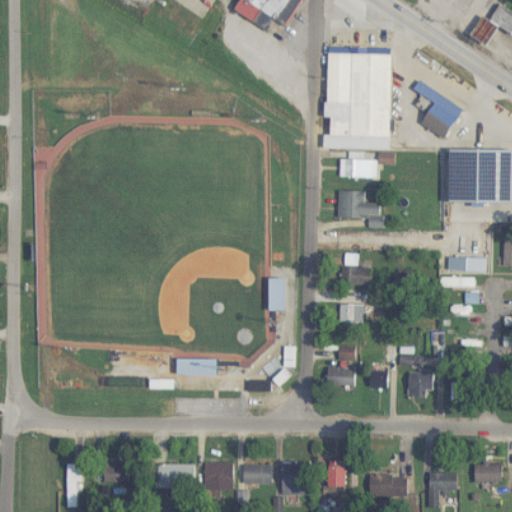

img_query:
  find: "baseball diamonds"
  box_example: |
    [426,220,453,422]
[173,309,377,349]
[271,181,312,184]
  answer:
[34,116,272,367]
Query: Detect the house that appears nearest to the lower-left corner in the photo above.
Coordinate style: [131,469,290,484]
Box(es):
[66,464,86,508]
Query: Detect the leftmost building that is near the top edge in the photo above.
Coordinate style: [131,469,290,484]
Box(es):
[240,0,309,34]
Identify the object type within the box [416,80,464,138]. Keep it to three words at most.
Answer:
building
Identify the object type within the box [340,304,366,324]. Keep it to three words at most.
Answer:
house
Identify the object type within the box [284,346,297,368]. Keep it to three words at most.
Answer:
shed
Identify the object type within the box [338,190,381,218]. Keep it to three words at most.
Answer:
house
